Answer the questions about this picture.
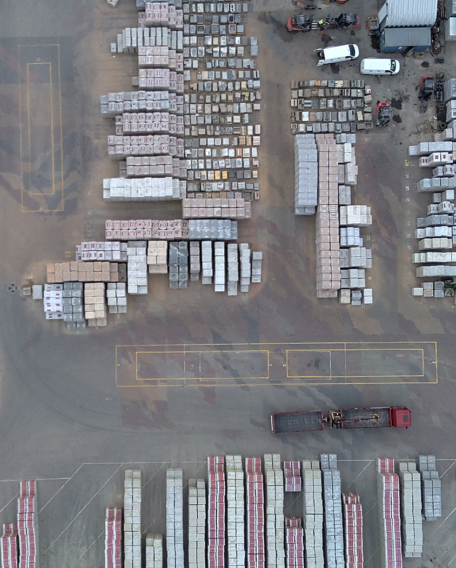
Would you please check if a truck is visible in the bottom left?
No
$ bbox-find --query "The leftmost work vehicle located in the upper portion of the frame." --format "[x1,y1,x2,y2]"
[289,17,320,32]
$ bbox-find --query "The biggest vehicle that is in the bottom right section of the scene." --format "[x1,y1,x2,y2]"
[331,408,415,433]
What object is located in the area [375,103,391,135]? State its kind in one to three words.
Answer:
work vehicle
